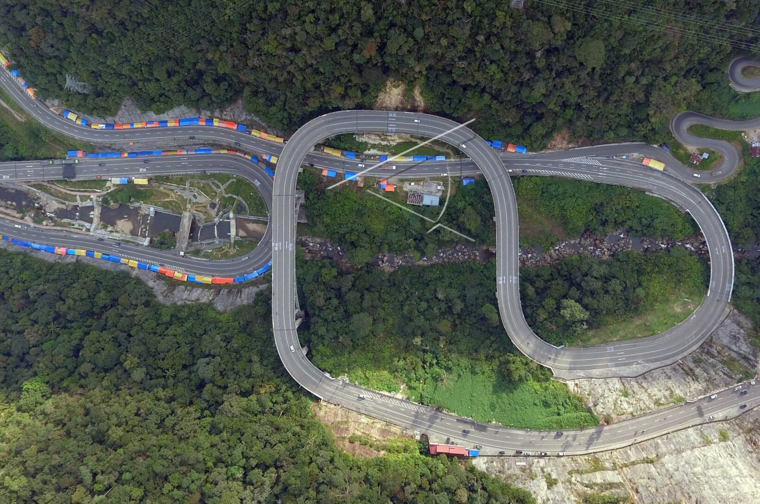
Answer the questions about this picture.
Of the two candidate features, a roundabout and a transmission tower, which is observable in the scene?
transmission tower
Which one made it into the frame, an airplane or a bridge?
bridge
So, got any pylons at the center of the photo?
No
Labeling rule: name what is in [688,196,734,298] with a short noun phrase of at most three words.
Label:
bridge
